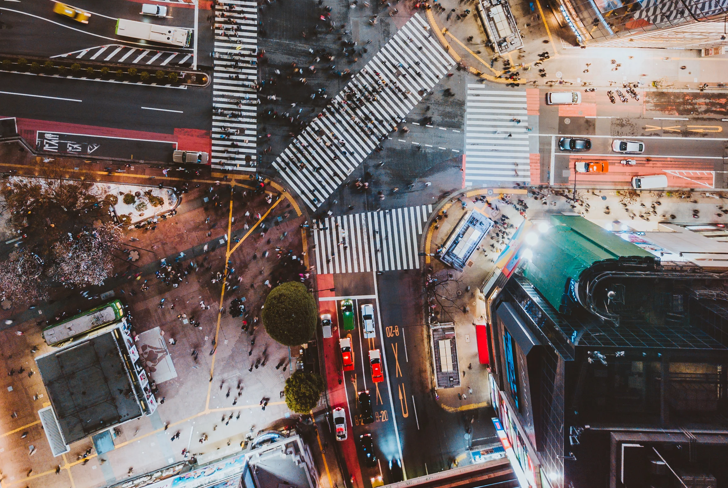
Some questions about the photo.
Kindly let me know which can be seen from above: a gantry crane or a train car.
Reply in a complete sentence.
This aerial view contains a train car.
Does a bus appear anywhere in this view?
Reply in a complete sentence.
Yes, the picture does show a bus.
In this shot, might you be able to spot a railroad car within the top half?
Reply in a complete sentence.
No, within the top half there is no railroad car.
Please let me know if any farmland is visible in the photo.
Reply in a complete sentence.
No, the scene doesn't show any farmland.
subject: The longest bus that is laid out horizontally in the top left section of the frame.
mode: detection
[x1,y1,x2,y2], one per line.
[114,17,194,49]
